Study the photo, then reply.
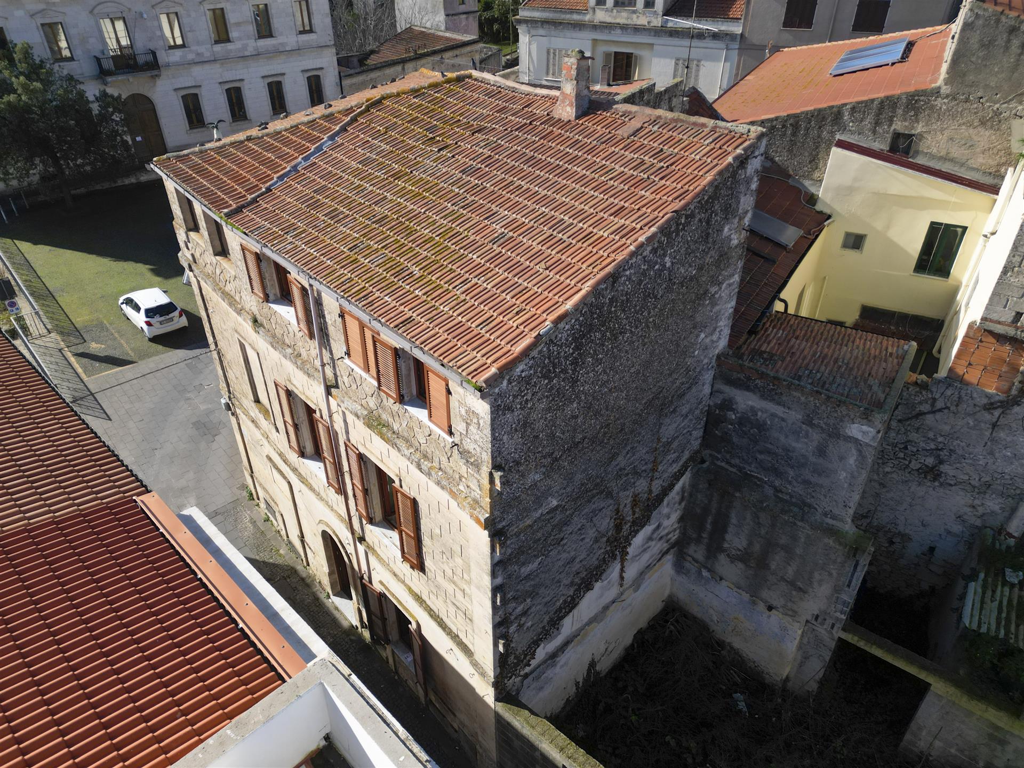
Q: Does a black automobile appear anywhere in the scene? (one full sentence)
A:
No, the picture doesn't show any black automobile.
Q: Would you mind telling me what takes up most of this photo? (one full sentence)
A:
The scene is dominated by buildings.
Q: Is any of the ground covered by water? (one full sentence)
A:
No, there's no water in this view.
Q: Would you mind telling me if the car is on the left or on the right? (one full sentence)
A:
The car is on the left side of the image.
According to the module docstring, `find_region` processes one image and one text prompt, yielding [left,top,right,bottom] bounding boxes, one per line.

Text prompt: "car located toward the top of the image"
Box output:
[113,273,189,330]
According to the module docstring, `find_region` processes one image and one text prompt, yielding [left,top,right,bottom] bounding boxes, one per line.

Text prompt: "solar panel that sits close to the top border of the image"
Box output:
[829,36,916,78]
